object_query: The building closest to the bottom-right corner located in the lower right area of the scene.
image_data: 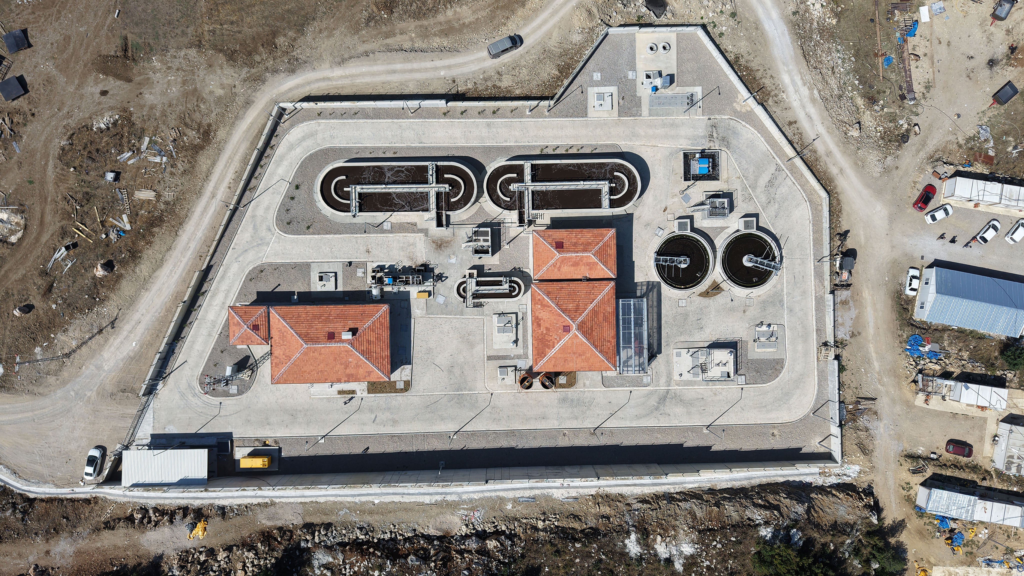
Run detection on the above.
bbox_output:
[973,496,1023,528]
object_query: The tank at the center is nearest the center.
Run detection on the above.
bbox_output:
[454,270,524,309]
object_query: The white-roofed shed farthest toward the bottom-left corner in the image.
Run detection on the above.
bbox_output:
[122,445,215,485]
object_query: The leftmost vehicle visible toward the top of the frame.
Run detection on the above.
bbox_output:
[484,32,523,60]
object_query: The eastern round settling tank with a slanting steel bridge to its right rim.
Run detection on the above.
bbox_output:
[718,218,788,291]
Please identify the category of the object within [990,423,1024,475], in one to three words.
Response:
building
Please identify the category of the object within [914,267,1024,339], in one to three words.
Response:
shed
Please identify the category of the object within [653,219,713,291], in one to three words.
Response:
storage tank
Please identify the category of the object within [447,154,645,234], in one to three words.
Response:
storage tank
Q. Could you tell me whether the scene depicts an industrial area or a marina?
industrial area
